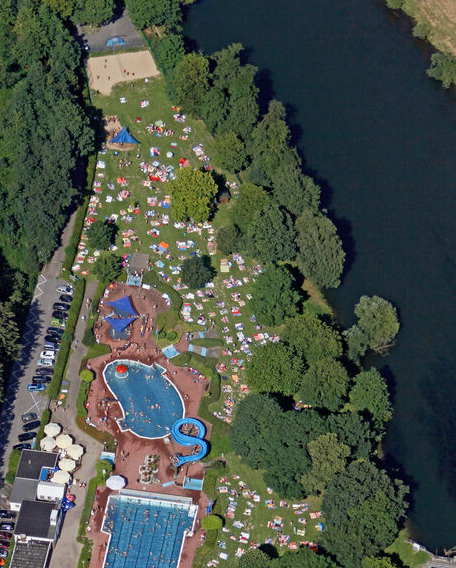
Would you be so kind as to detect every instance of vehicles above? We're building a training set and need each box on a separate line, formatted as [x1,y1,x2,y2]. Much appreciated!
[35,367,55,376]
[29,383,44,391]
[33,375,52,383]
[44,334,62,343]
[56,285,74,295]
[13,441,32,451]
[53,301,72,311]
[44,341,60,350]
[22,412,37,422]
[59,294,73,302]
[0,531,12,540]
[36,358,55,367]
[0,521,15,530]
[40,350,56,358]
[47,327,64,335]
[52,310,68,319]
[0,509,15,518]
[0,547,9,557]
[22,420,41,431]
[17,431,37,442]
